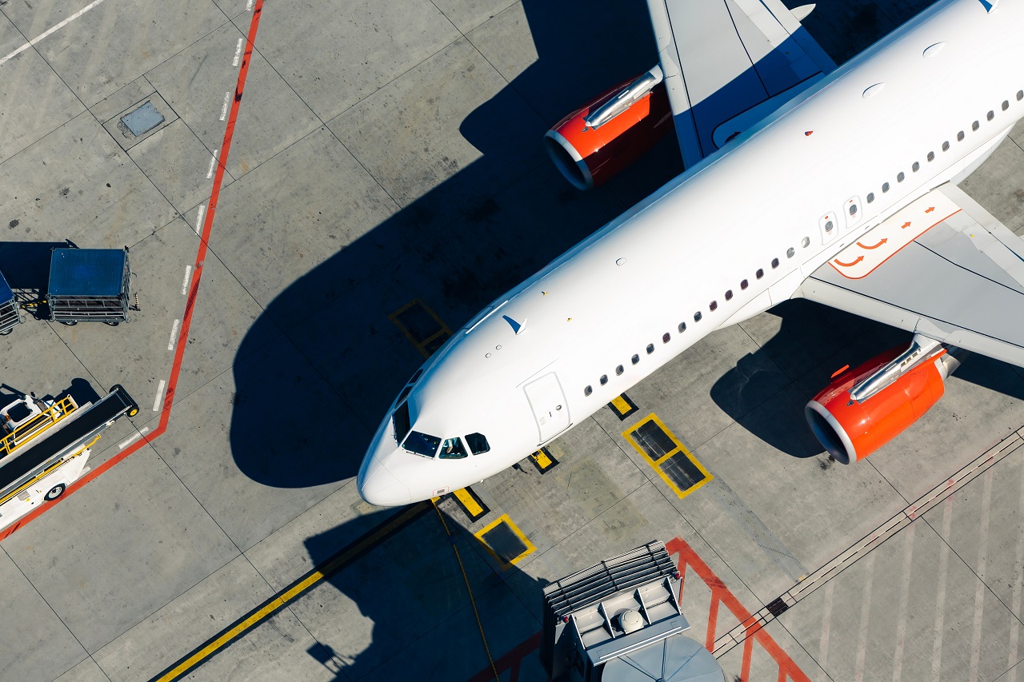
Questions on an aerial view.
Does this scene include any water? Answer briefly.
No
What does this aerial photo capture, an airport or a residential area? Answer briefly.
airport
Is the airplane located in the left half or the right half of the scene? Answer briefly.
right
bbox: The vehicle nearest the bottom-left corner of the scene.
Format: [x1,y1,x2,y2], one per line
[0,379,142,535]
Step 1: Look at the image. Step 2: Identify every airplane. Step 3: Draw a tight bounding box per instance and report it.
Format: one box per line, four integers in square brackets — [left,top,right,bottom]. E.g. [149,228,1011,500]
[356,0,1024,506]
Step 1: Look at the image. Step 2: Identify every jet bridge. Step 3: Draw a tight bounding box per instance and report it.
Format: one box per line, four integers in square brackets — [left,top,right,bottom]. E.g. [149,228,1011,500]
[543,537,725,682]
